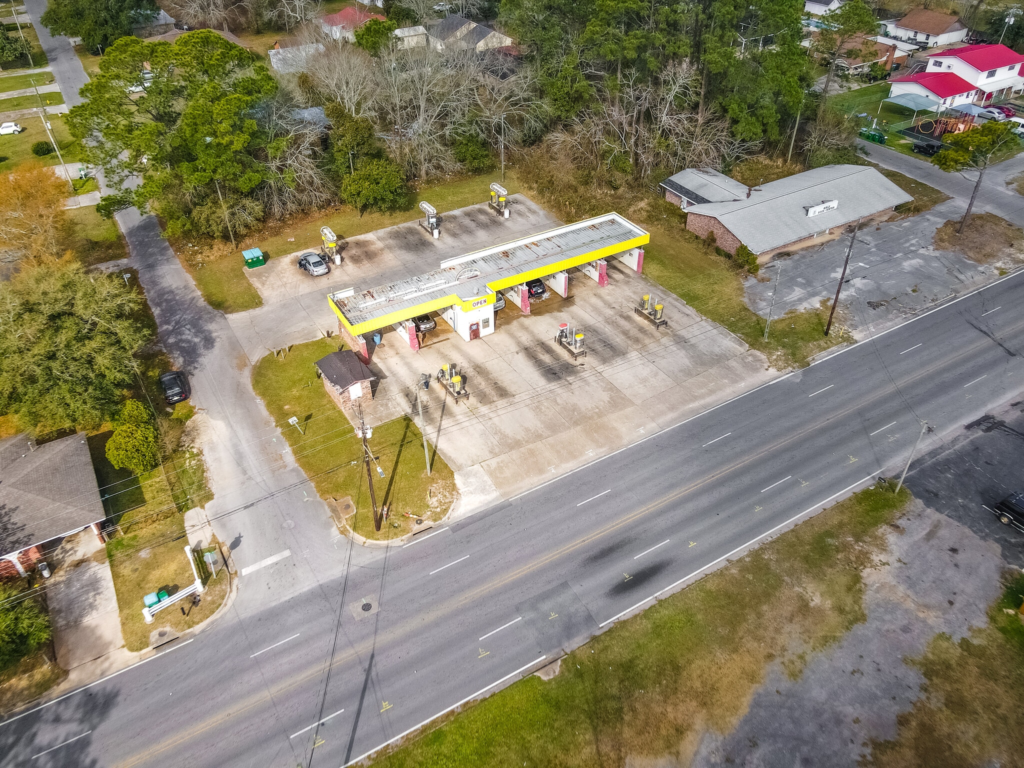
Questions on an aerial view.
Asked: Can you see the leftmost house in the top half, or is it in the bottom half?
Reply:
bottom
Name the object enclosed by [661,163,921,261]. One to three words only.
building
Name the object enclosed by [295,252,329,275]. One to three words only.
car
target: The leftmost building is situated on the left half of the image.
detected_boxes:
[0,426,111,589]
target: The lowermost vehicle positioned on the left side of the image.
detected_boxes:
[153,364,189,398]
